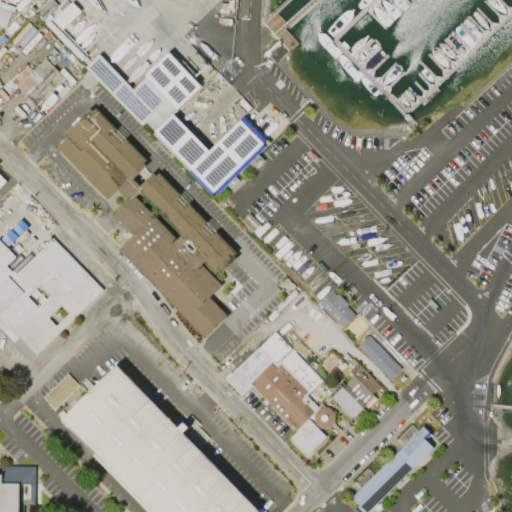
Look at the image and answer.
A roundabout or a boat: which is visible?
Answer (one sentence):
Looking from above, you can make out a boat.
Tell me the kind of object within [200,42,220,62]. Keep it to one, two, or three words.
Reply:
boat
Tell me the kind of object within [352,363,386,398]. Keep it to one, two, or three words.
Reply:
house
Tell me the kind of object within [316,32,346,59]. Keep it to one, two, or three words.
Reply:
boat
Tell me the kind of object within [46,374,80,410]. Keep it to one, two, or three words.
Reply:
building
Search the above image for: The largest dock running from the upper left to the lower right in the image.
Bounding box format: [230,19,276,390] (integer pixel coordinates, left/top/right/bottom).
[332,36,412,118]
